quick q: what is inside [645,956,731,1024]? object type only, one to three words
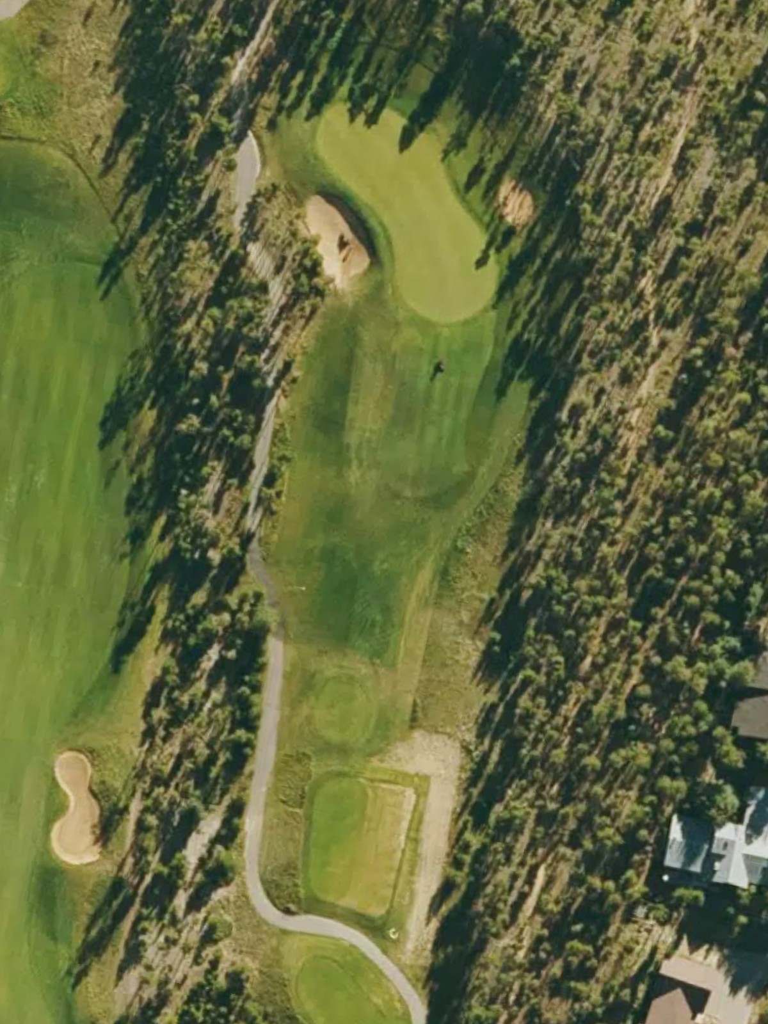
house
